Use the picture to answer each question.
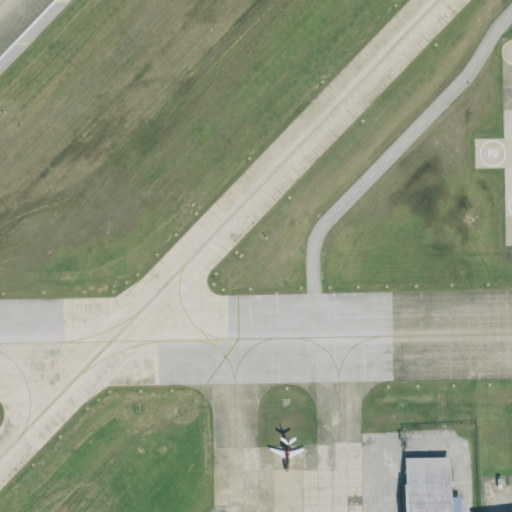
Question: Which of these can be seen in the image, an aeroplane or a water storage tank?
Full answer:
There is an aeroplane in the scene.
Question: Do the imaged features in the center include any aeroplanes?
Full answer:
No, I see no aeroplane in the center.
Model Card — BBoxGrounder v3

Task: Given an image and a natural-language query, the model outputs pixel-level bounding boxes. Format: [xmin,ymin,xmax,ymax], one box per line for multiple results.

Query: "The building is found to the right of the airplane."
[406,458,462,512]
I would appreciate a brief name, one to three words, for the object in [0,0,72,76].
runway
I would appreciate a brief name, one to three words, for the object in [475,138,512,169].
helipad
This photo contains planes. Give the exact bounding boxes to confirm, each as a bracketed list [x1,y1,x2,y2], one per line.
[270,436,305,471]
